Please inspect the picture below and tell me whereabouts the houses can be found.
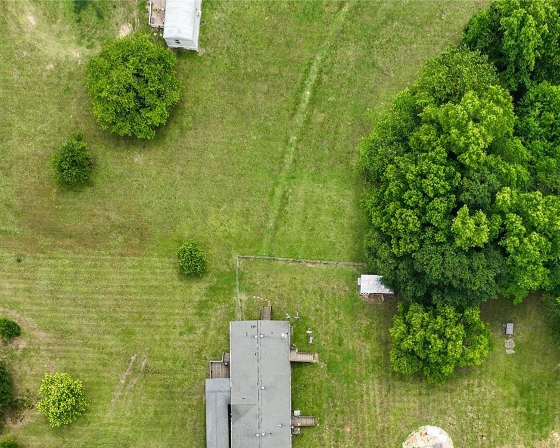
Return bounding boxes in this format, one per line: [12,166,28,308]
[206,306,316,448]
[148,0,201,50]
